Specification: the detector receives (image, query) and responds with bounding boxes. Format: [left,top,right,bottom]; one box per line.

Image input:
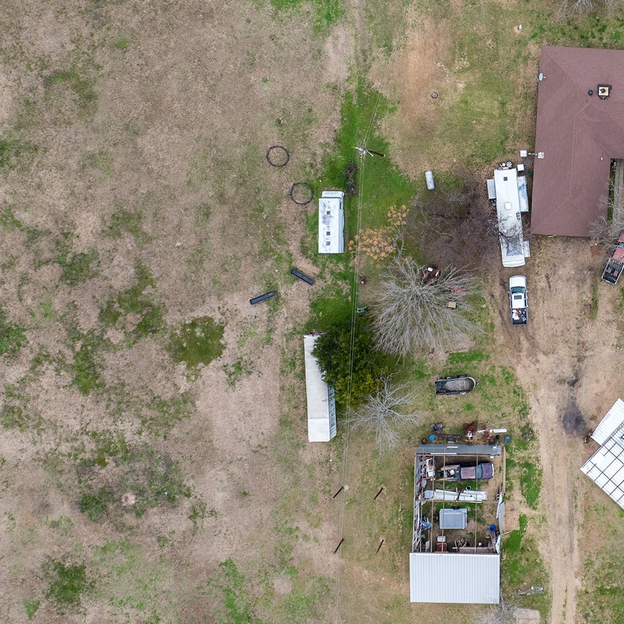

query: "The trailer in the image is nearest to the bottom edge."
[440,502,468,529]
